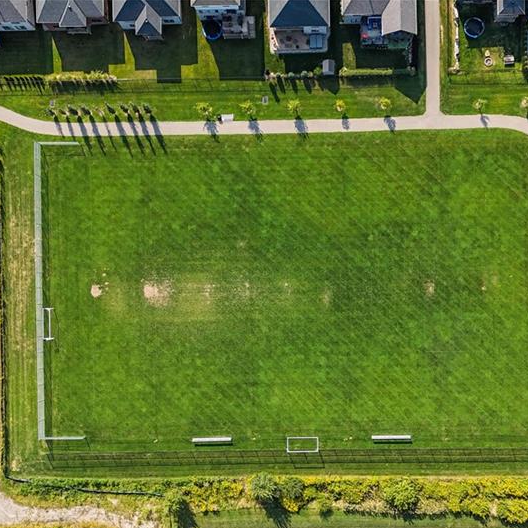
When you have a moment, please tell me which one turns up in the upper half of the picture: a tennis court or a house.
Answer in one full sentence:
You can see a house in the upper half of the picture.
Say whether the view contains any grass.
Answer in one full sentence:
Yes, grass can be seen from above here.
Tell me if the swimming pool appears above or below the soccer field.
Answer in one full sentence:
In the image, the swimming pool sits above the soccer field.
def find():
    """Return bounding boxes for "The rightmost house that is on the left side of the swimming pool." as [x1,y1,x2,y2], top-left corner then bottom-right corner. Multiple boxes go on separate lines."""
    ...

[113,0,182,41]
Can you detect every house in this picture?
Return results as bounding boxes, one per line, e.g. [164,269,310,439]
[342,0,418,47]
[0,0,34,48]
[270,0,328,53]
[113,0,182,41]
[455,0,526,23]
[36,0,109,35]
[191,0,247,41]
